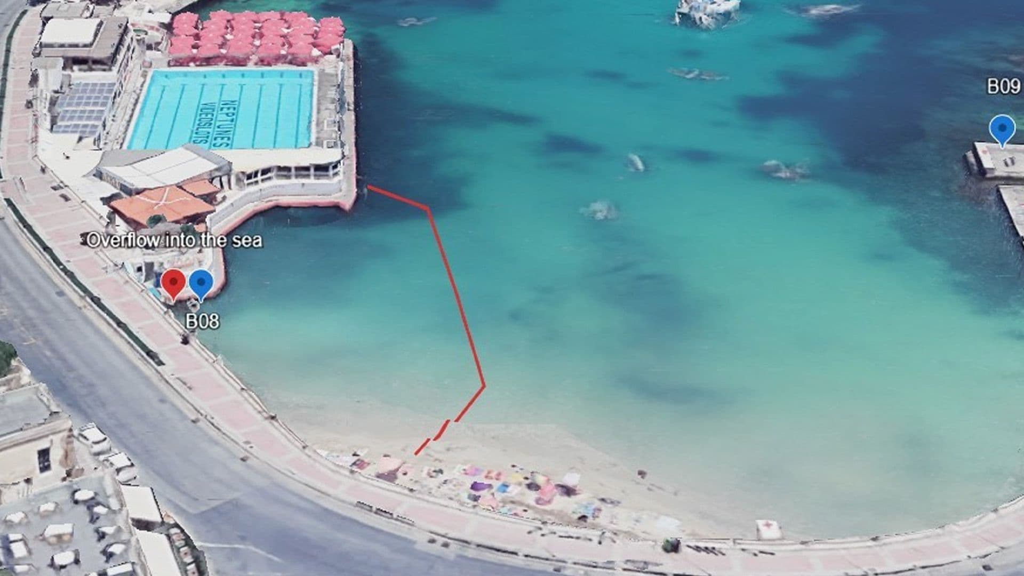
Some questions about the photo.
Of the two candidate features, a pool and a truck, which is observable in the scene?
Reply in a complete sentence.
There is a pool in the scene.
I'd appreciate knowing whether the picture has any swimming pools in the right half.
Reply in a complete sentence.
No, I see no swimming pool in the right half.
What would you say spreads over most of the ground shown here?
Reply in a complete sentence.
The largest share of the image is taken up by water.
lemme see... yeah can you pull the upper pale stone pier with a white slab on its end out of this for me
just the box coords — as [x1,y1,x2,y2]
[961,142,1024,188]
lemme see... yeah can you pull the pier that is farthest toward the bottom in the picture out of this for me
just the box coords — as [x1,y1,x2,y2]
[992,187,1024,254]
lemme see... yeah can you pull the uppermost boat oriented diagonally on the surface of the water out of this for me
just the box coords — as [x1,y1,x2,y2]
[628,154,648,170]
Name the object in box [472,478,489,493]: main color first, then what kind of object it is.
purple umbrella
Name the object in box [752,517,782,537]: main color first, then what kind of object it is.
white tent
